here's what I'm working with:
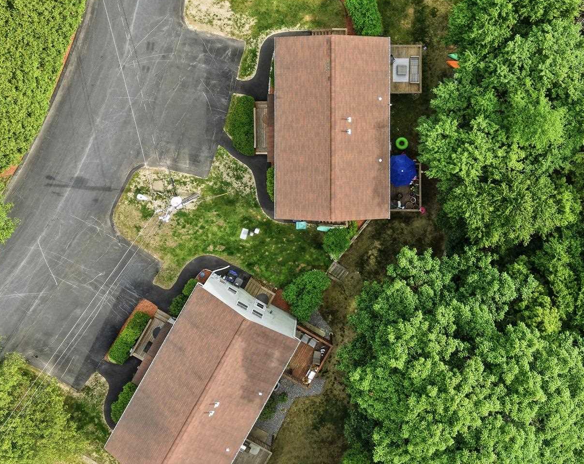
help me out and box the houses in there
[254,31,421,226]
[104,269,333,464]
